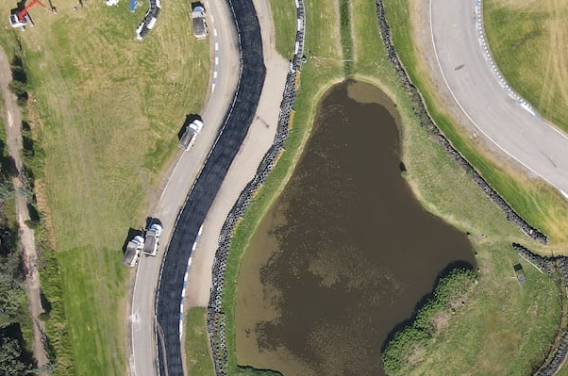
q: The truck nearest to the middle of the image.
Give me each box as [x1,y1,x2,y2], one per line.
[174,116,203,150]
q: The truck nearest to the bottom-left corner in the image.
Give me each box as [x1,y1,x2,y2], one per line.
[119,233,143,268]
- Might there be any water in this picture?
Yes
